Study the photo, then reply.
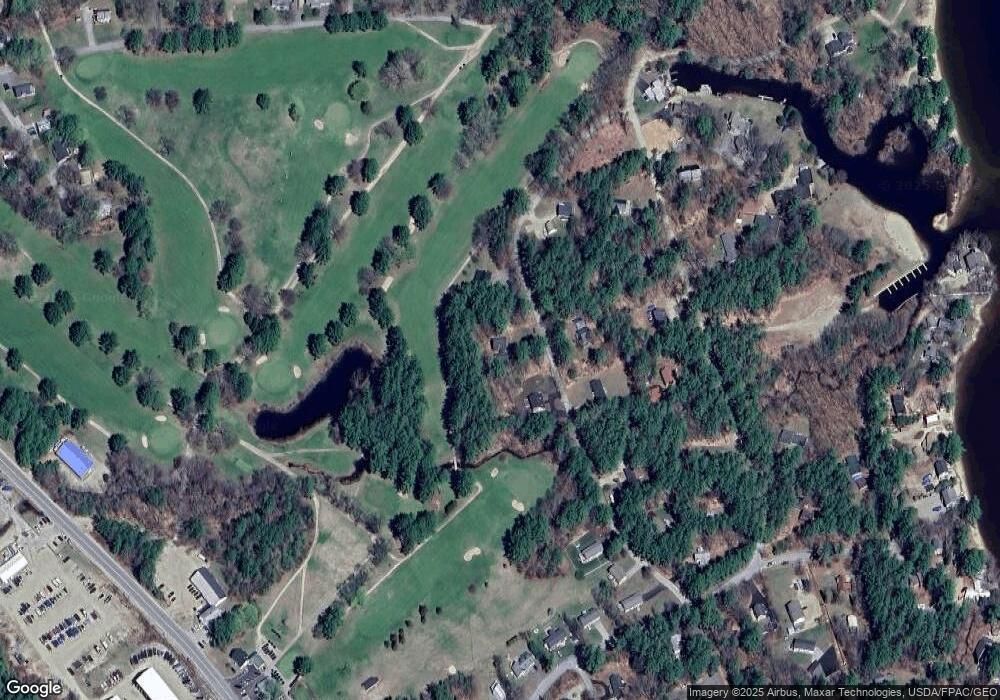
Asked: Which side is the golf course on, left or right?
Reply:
left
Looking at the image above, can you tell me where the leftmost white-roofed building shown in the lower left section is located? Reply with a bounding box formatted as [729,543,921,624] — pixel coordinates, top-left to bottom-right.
[0,550,30,587]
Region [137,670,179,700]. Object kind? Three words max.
building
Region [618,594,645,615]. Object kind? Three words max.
house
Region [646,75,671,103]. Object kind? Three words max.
house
